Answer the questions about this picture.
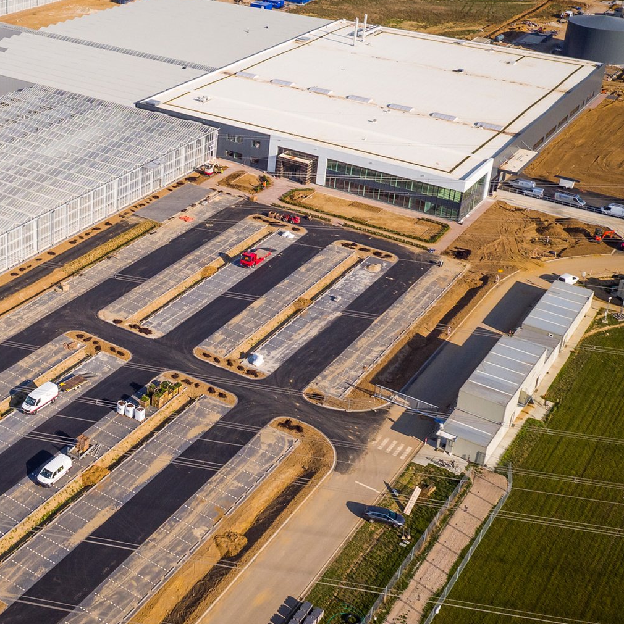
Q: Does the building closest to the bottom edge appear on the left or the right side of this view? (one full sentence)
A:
The building closest to the bottom edge is on the right side of the image.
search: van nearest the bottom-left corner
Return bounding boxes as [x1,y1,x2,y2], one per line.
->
[34,450,73,487]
